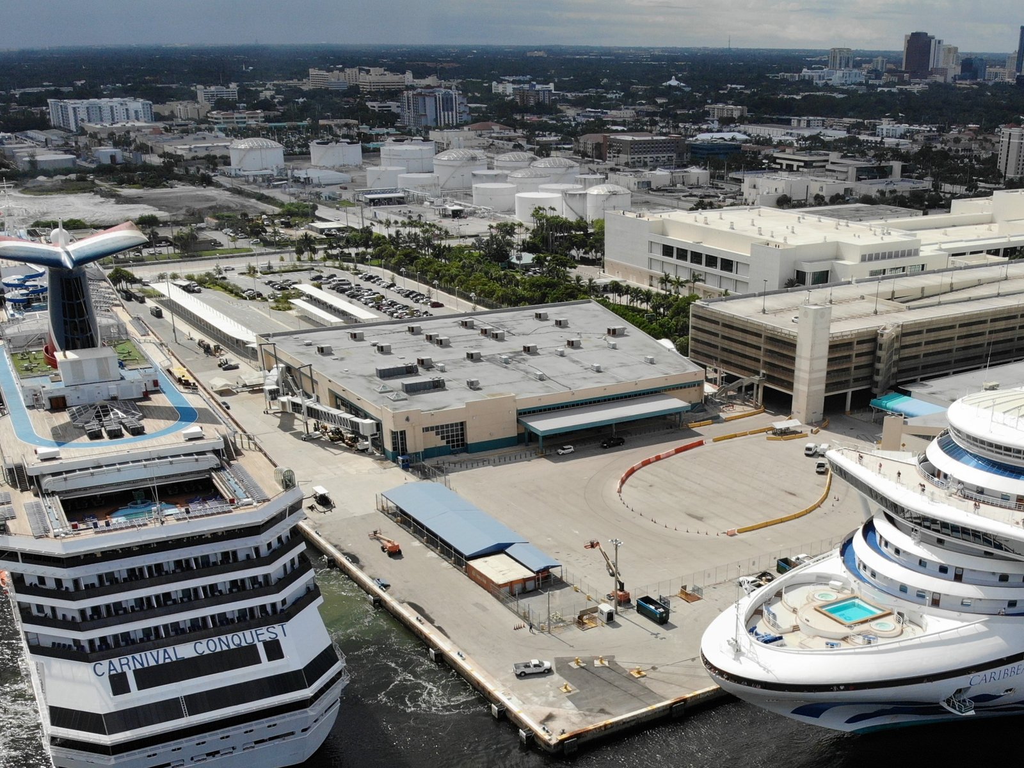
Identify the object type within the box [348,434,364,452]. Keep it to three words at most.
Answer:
work vehicle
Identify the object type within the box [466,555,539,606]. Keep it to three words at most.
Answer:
building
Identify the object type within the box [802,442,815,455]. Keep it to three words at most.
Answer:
vehicle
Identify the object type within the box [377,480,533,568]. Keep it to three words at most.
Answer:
shed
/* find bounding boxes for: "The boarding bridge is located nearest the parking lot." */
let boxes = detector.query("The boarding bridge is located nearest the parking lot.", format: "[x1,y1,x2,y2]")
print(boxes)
[256,341,288,413]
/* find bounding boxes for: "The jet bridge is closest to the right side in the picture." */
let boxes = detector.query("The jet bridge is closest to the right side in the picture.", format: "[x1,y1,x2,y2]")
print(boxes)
[273,363,375,453]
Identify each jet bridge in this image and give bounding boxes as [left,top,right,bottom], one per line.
[256,341,288,413]
[273,363,375,453]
